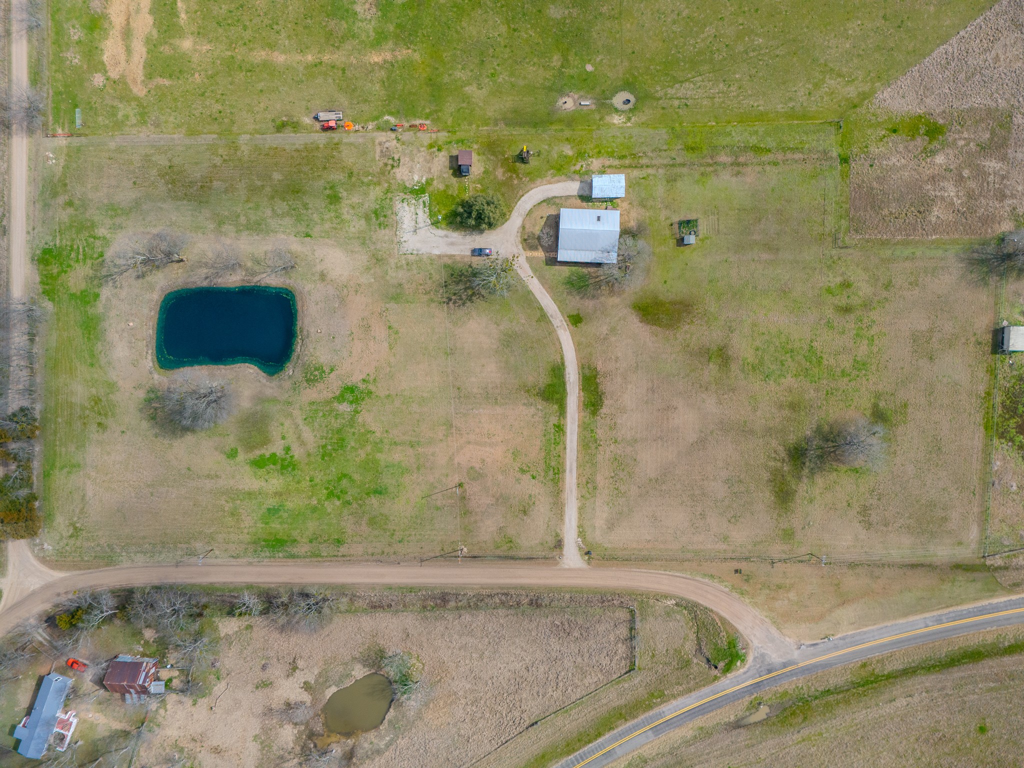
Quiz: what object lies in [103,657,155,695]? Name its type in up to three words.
barn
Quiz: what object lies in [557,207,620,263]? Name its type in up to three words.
house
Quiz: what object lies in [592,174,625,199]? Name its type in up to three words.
building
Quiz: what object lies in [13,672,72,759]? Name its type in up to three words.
house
